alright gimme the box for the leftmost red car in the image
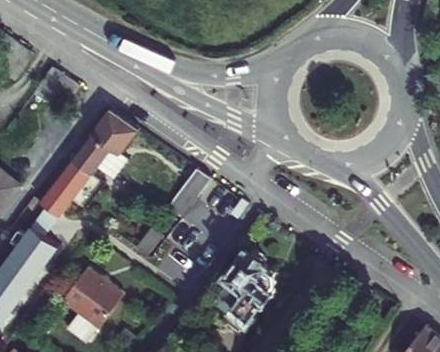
[393,260,415,278]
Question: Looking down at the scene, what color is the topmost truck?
white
